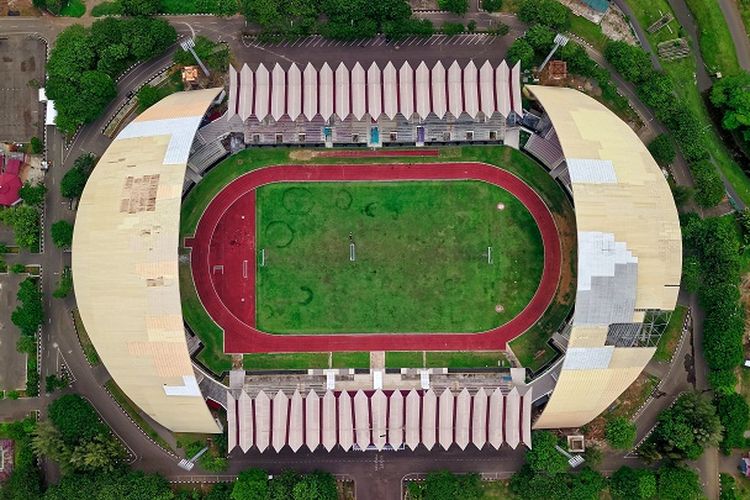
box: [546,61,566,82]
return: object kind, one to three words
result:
building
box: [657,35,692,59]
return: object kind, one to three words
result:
building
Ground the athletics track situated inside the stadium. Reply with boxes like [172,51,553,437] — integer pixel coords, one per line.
[185,162,562,354]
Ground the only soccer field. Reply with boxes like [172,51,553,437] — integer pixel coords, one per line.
[256,181,545,335]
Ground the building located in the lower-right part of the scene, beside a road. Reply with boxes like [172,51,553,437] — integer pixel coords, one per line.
[563,433,584,452]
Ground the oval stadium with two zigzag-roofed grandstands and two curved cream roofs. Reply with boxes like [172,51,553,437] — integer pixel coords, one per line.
[72,62,683,452]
